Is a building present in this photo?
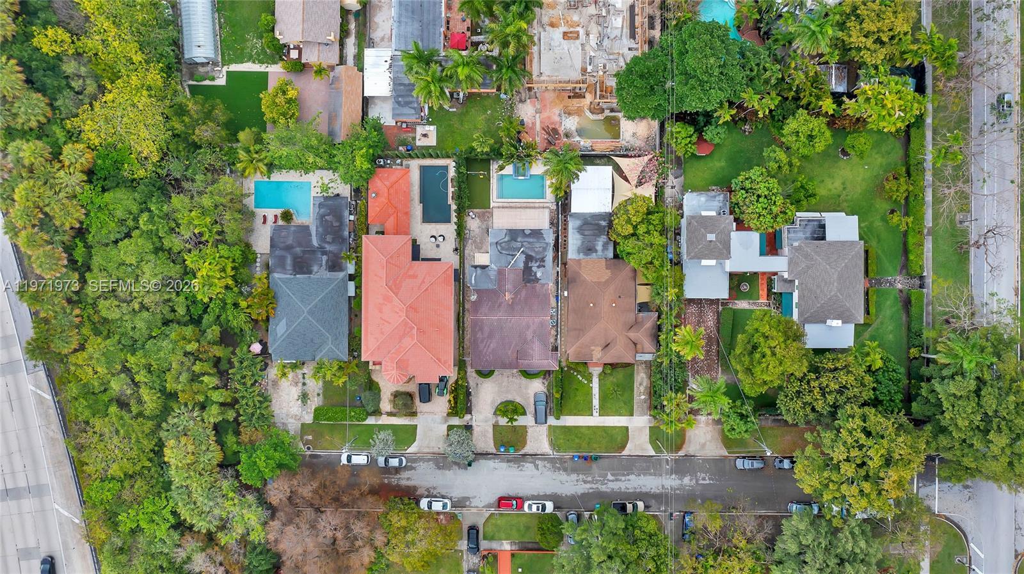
Yes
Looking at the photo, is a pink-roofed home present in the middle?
Yes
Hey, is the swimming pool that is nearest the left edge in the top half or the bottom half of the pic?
top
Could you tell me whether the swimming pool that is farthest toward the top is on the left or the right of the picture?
right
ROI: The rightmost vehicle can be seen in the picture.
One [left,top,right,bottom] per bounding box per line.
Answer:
[995,93,1014,122]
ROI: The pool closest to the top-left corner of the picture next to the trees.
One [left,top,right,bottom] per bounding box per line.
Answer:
[253,179,313,221]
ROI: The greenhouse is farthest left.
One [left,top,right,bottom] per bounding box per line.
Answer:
[183,0,222,69]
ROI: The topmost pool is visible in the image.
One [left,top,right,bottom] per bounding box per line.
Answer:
[697,0,744,41]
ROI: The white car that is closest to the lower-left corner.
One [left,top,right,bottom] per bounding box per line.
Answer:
[341,452,371,465]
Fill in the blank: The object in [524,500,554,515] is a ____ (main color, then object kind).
white car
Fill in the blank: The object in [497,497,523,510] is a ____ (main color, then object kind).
red vehicle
